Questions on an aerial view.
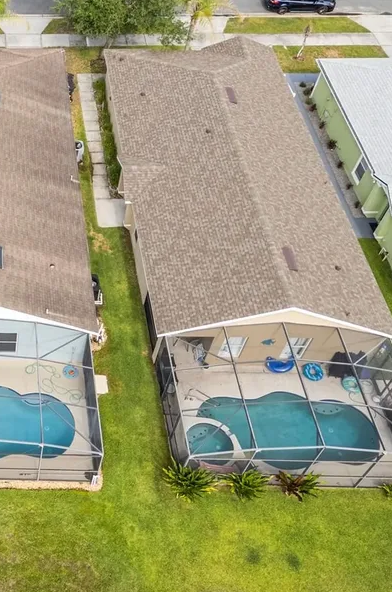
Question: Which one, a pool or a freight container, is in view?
pool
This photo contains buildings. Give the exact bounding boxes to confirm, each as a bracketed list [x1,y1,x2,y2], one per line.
[0,48,100,362]
[313,57,392,274]
[103,32,392,372]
